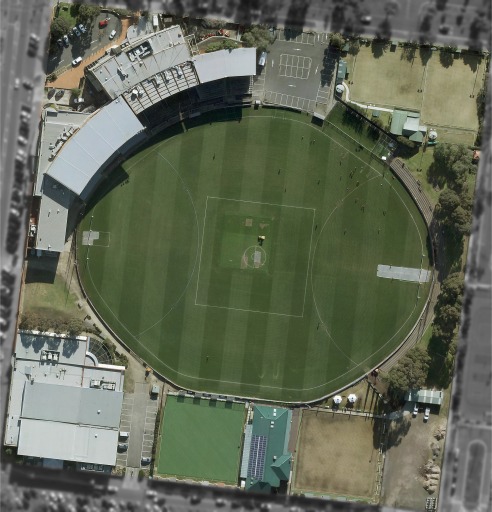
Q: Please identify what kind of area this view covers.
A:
sports ground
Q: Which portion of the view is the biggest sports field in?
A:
center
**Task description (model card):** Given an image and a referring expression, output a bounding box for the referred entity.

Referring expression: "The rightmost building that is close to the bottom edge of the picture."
[240,404,293,494]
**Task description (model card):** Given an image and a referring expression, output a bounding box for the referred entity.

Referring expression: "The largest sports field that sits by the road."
[76,104,434,402]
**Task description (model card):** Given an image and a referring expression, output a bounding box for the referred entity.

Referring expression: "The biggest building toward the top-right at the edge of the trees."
[390,110,426,142]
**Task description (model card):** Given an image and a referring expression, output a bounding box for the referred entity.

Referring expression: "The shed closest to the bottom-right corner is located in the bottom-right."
[405,388,444,404]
